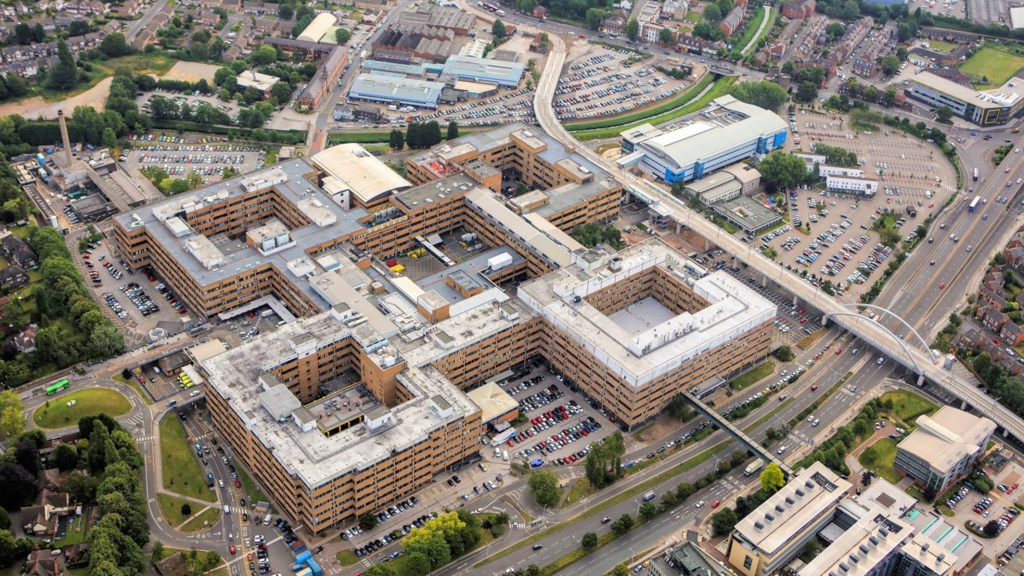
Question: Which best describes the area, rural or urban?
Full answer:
The area shown here is urban.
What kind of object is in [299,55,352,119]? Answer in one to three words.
building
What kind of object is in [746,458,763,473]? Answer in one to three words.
vehicle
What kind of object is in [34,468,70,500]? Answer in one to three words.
house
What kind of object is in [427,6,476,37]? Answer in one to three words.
shed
